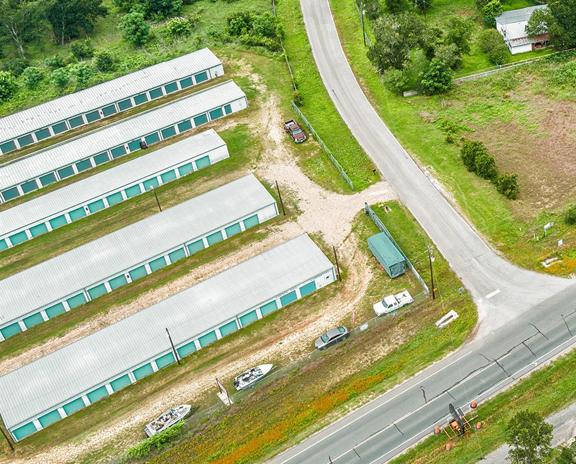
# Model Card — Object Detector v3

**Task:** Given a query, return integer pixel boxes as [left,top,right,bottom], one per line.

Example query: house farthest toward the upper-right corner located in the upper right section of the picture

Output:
[493,8,561,54]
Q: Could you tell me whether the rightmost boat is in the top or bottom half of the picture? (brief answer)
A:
bottom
